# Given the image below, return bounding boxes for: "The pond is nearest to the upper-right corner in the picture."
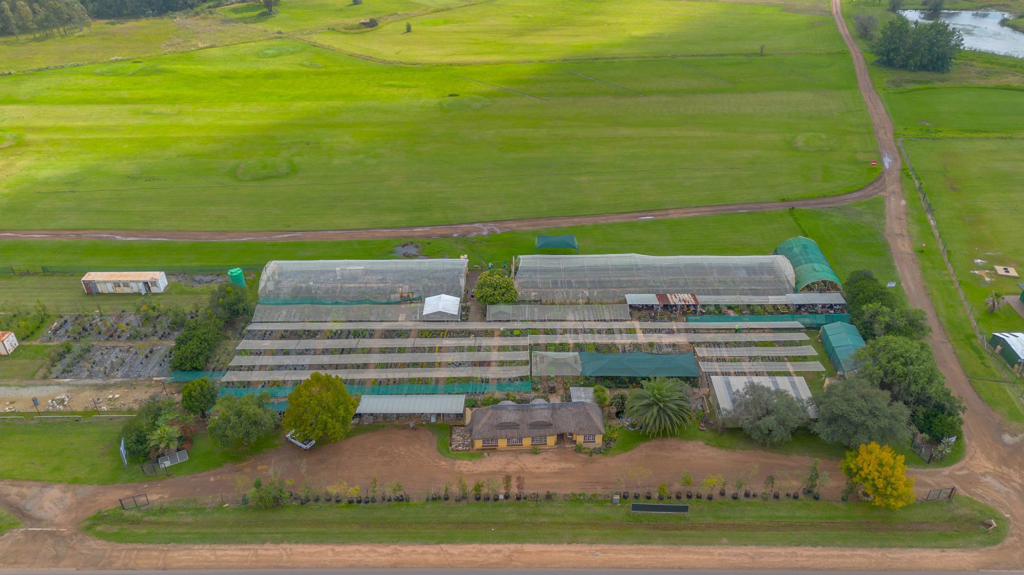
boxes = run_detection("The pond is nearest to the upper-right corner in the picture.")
[905,9,1024,58]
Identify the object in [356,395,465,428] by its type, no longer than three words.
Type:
shed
